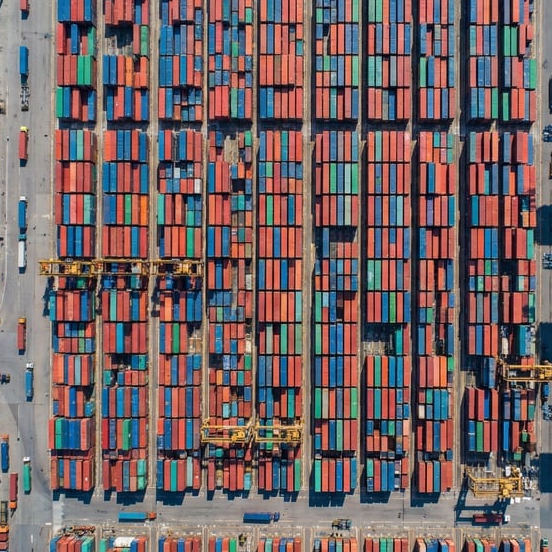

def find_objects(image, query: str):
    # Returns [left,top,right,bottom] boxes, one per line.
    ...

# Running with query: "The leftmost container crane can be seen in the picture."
[39,257,102,279]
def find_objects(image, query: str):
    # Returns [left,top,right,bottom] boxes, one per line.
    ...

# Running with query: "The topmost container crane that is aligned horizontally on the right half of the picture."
[496,358,552,383]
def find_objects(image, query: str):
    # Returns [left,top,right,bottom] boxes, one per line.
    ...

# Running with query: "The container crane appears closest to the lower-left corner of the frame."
[201,415,253,443]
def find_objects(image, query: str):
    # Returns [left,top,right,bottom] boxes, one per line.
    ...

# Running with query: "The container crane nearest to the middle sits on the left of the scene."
[149,257,209,279]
